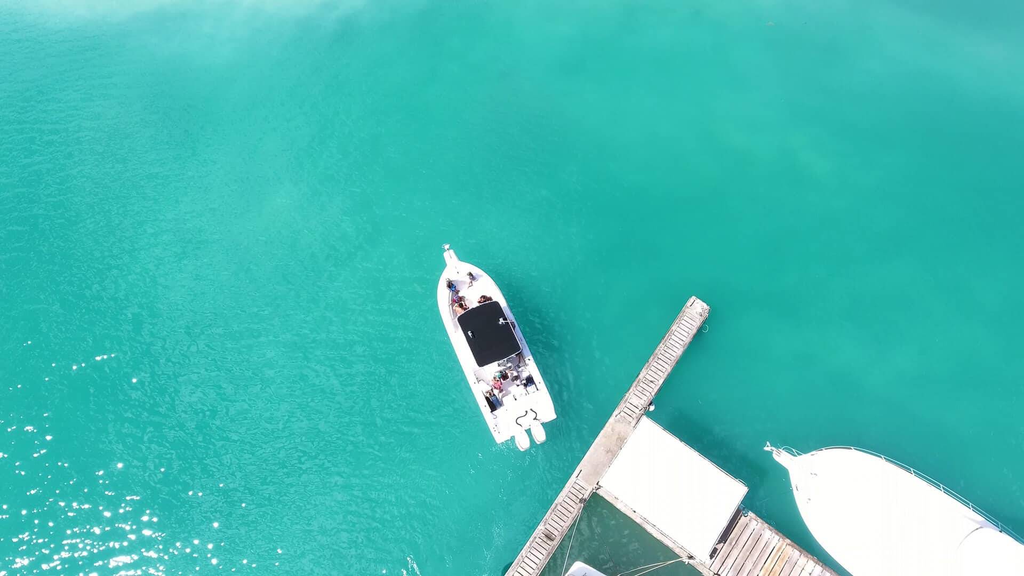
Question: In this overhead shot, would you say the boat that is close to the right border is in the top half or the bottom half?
bottom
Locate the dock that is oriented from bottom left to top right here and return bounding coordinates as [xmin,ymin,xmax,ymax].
[505,297,709,576]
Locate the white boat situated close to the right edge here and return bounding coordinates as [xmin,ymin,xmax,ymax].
[765,441,1024,576]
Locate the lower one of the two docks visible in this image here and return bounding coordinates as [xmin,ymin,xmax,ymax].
[707,507,844,576]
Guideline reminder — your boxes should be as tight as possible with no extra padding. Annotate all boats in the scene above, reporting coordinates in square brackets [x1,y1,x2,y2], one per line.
[436,244,556,451]
[765,441,1024,576]
[561,560,595,576]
